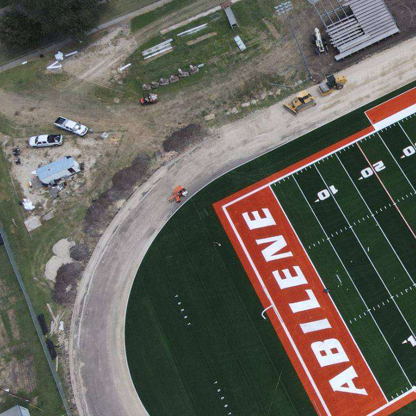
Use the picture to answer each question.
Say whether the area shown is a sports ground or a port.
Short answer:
sports ground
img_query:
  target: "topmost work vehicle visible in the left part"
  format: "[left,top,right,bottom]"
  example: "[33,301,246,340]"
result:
[139,88,159,106]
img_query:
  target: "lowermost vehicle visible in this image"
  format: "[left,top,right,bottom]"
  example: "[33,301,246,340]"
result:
[170,183,191,211]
